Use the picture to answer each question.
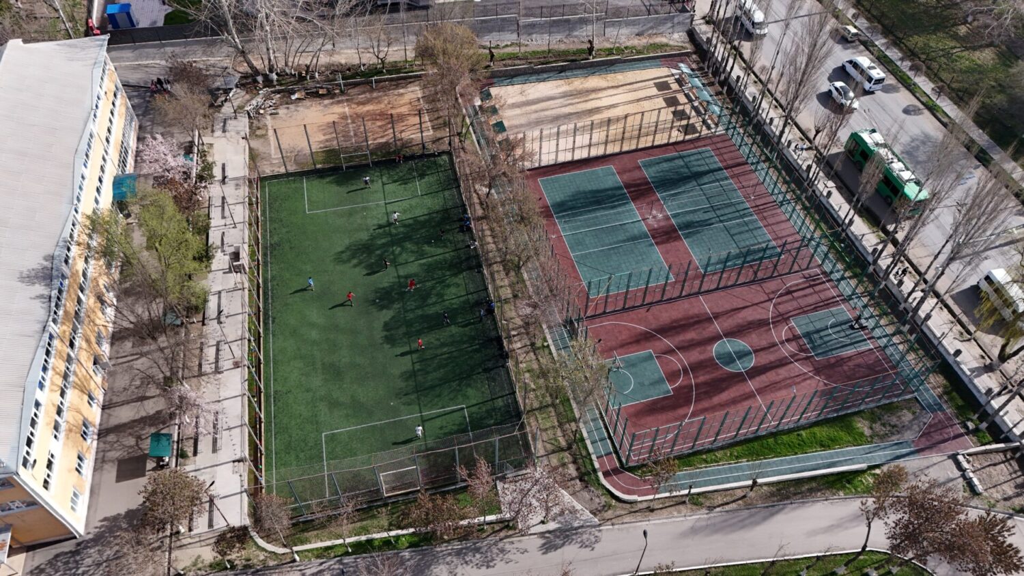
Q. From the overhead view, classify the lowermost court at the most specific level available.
basketball court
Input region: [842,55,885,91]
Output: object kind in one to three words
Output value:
vehicle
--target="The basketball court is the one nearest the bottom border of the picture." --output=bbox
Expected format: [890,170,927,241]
[570,268,912,464]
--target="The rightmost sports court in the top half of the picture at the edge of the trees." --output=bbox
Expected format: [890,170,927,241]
[619,133,821,292]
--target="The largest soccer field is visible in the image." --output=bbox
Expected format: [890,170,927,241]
[261,151,535,522]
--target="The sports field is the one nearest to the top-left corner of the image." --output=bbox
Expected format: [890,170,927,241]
[263,84,437,158]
